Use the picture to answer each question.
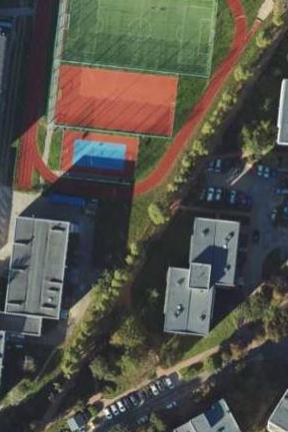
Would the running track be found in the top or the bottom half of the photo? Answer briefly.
top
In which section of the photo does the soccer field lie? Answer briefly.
top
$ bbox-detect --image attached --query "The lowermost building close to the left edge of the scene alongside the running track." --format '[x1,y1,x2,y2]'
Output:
[5,216,71,319]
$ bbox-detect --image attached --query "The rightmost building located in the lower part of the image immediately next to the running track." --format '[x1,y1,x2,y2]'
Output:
[164,218,239,335]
